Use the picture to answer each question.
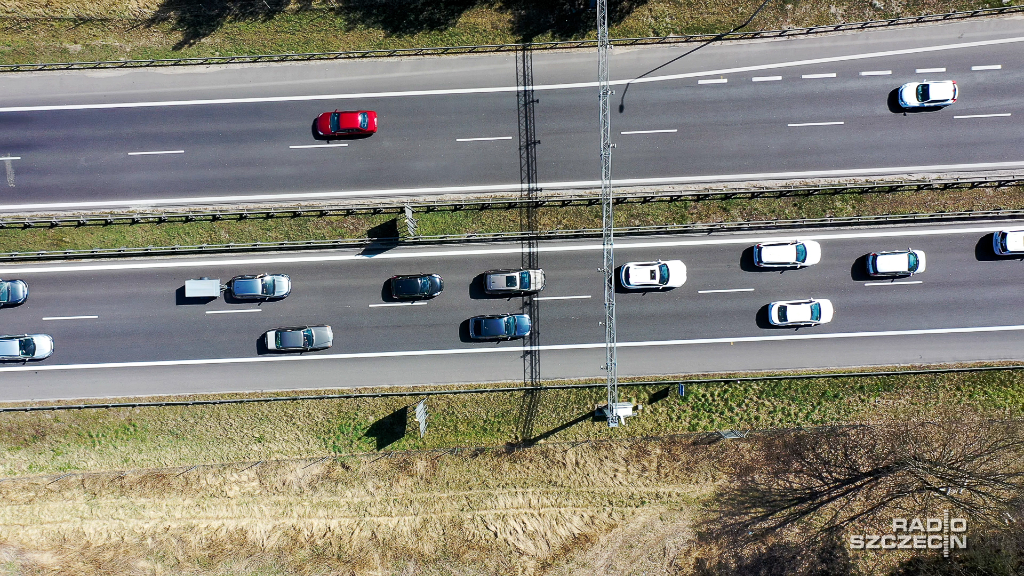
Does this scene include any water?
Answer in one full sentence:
No, the scene doesn't show any water.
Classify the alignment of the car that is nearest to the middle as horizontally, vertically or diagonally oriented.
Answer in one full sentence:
The car that is nearest to the middle is oriented horizontally.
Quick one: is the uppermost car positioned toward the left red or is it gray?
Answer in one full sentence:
The color of the uppermost car positioned toward the left is red.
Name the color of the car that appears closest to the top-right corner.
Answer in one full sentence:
In this view, the car that appears closest to the top-right corner is white.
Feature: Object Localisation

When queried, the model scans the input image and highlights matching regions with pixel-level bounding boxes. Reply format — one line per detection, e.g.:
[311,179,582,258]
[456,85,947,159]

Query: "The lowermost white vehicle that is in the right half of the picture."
[767,296,834,327]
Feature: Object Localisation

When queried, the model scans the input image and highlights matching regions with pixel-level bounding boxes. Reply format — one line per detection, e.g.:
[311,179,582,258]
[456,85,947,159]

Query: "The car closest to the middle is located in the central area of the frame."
[483,265,546,296]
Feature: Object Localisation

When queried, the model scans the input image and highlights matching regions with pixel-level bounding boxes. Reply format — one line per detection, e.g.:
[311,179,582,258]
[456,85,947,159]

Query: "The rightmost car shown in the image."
[991,231,1024,257]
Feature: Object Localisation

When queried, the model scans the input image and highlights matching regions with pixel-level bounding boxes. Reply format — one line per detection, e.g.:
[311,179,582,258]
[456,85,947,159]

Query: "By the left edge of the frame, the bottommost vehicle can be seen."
[0,331,56,362]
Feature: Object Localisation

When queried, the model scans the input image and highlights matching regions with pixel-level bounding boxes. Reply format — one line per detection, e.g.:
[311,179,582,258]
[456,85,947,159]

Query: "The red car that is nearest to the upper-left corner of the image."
[316,107,378,138]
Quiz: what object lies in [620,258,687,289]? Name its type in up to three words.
car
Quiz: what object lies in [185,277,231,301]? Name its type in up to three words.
trailer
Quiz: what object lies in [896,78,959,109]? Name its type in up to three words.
car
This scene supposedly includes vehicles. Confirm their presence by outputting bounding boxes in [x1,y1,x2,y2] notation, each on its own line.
[991,231,1024,257]
[230,271,292,302]
[264,322,335,353]
[620,258,687,289]
[753,237,821,269]
[391,271,444,301]
[864,246,926,277]
[0,276,31,307]
[0,331,56,362]
[896,78,959,109]
[469,311,532,341]
[316,107,378,138]
[483,265,546,296]
[767,296,834,327]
